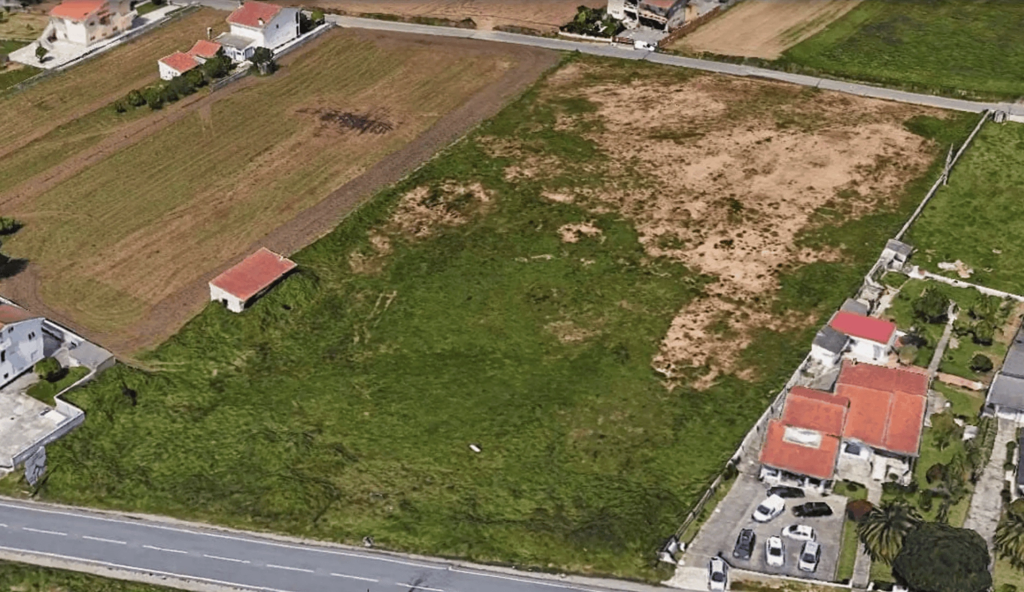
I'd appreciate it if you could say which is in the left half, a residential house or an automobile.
residential house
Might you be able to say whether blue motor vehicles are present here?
No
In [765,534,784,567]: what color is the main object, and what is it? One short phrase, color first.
white car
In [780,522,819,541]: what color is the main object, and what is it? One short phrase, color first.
white car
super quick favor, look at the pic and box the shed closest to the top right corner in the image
[880,242,914,281]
